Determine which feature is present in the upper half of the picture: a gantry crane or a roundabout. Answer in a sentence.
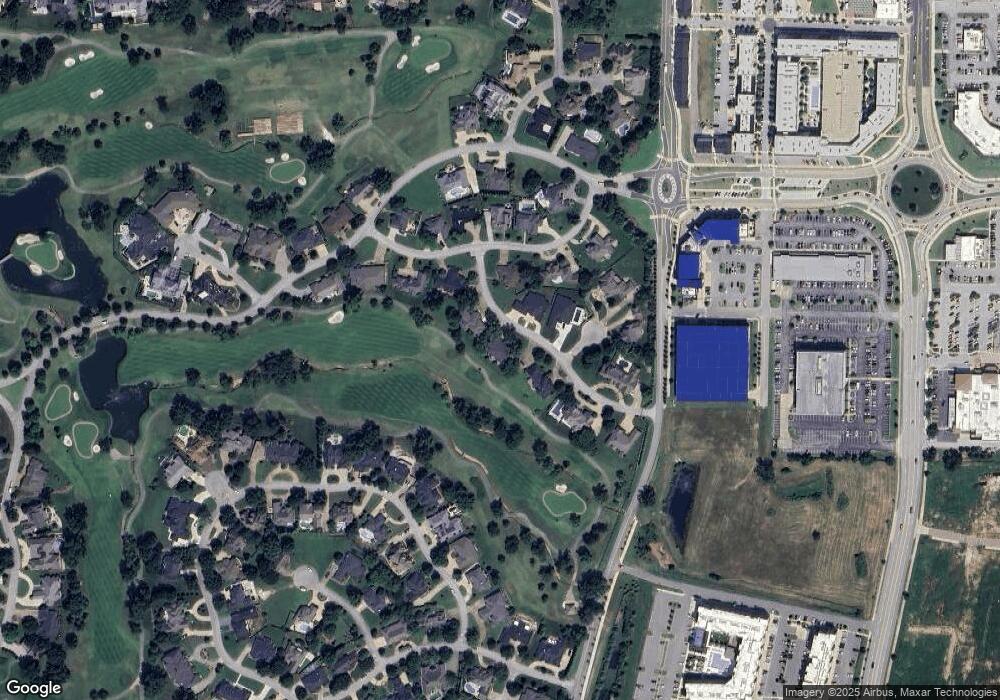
There is a roundabout in the upper half of the picture.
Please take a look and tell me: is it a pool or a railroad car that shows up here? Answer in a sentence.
I can see a pool in this picture.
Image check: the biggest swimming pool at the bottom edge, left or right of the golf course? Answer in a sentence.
The biggest swimming pool at the bottom edge is to the right of the golf course.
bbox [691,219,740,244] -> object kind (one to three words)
building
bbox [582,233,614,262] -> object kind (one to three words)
house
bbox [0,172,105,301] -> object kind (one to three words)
pond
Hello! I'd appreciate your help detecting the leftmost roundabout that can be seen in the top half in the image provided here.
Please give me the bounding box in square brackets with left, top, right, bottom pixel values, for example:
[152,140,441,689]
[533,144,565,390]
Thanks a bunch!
[650,165,683,211]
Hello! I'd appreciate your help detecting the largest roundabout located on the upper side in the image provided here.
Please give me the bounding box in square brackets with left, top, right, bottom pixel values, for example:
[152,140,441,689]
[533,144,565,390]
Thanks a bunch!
[881,154,954,226]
